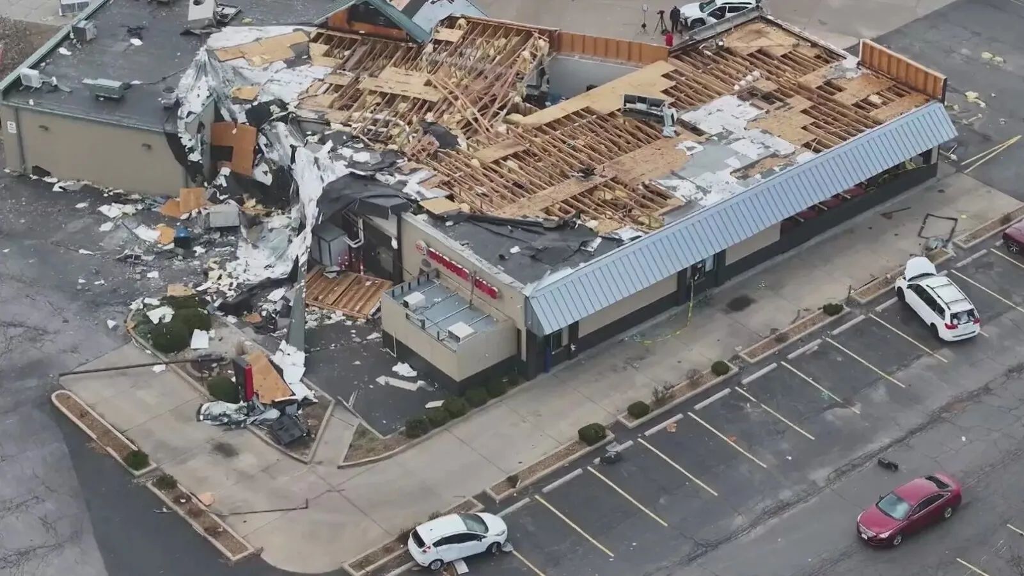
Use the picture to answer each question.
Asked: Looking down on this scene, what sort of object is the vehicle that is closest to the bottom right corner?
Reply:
automobile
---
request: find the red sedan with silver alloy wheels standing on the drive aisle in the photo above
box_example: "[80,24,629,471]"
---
[857,469,965,545]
